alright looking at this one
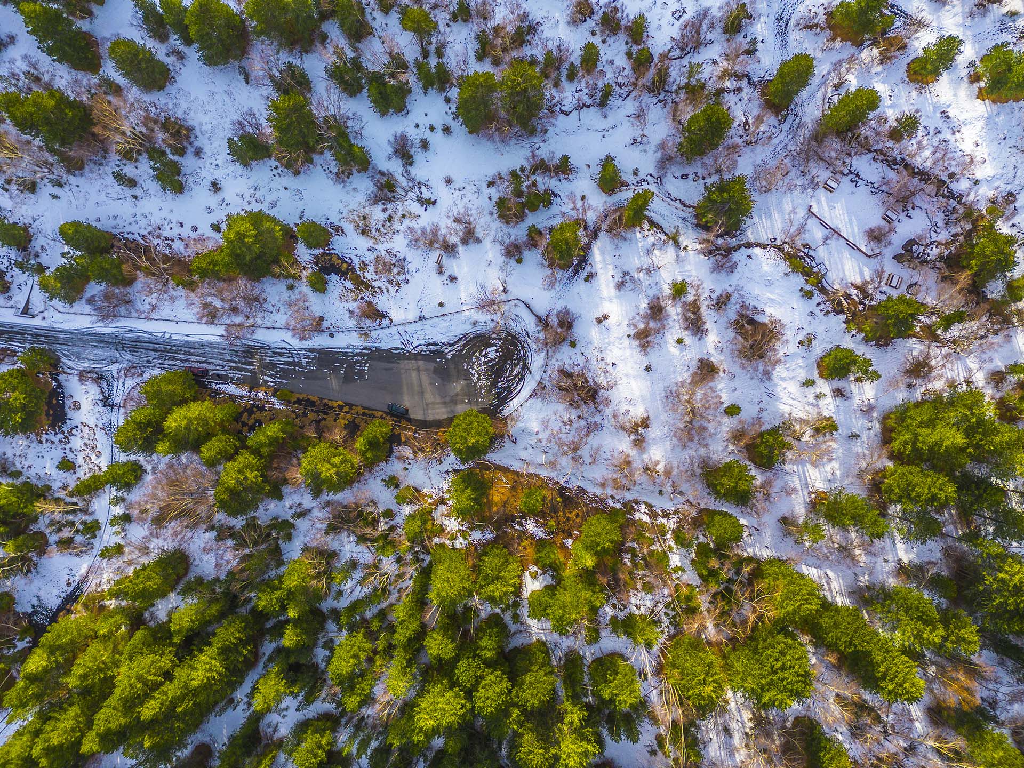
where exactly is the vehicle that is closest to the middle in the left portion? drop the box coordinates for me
[386,403,408,416]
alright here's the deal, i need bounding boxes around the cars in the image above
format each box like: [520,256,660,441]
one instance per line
[184,367,207,378]
[386,403,408,416]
